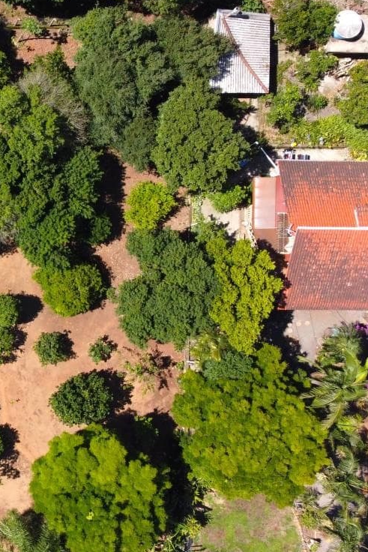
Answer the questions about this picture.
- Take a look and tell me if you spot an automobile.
No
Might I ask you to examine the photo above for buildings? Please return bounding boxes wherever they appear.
[204,4,271,97]
[271,159,368,311]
